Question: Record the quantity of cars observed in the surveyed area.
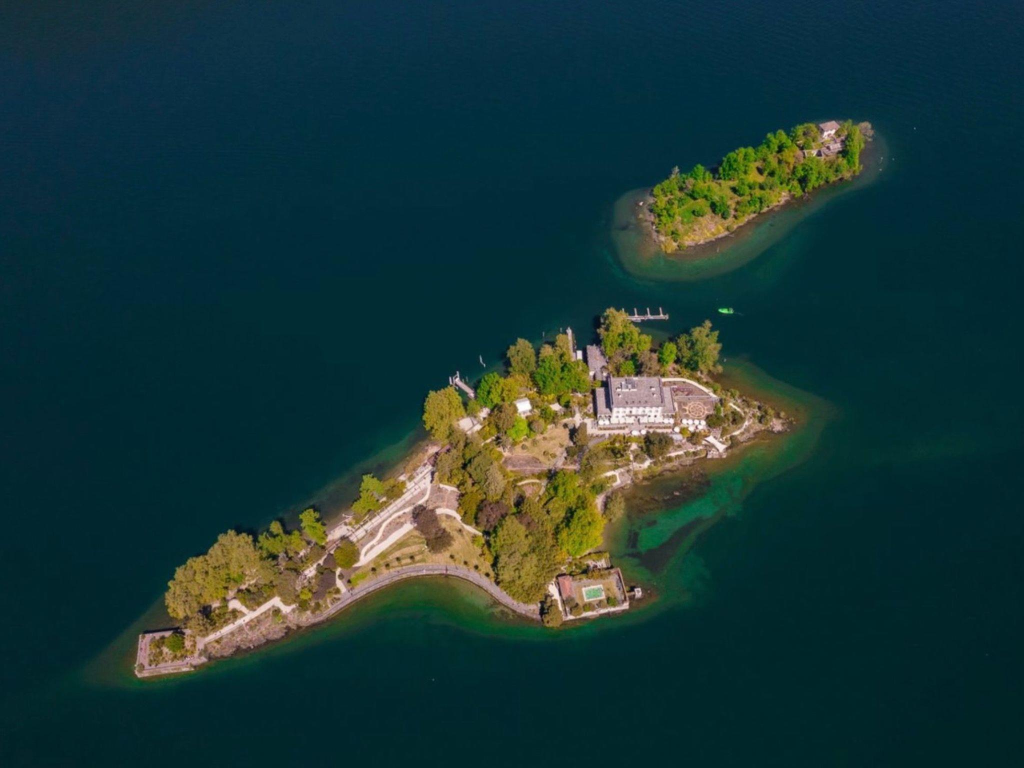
0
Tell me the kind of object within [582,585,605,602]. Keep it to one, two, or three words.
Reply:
swimming pool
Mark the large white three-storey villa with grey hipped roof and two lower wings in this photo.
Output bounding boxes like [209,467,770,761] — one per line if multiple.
[596,375,676,423]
